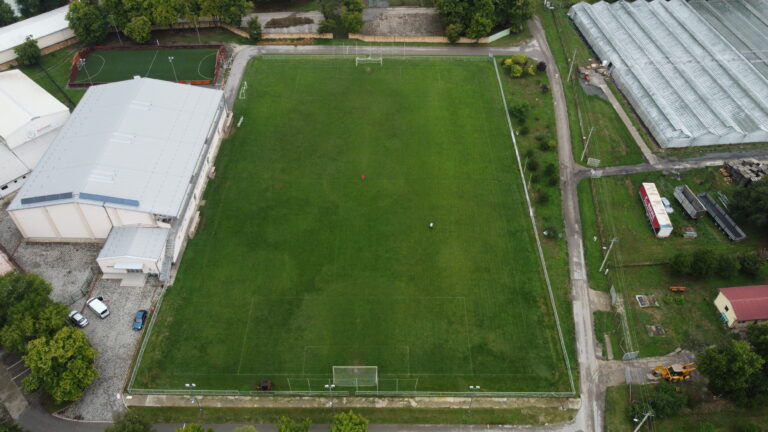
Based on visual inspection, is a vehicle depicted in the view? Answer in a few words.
Yes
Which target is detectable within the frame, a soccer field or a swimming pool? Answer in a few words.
soccer field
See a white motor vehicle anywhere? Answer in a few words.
Yes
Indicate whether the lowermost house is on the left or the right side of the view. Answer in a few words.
right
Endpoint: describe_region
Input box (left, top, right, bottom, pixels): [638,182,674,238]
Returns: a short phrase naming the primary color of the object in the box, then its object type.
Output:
white trailer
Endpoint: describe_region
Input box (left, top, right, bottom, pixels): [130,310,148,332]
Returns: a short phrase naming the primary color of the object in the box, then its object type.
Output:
blue car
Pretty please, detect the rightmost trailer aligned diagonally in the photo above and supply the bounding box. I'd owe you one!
[695,192,746,241]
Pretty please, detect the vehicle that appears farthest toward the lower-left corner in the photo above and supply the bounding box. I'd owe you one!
[67,310,88,329]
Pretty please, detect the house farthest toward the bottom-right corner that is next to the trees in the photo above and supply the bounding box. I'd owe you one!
[713,286,768,330]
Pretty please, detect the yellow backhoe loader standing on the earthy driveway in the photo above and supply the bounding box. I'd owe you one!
[646,363,697,382]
